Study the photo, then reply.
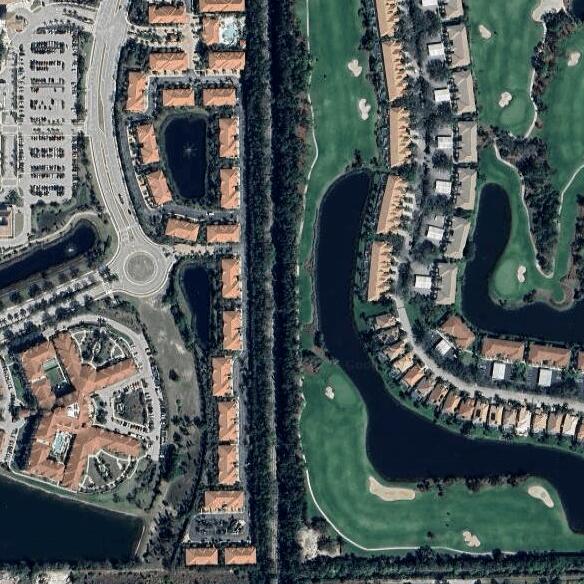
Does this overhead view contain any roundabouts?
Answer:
Yes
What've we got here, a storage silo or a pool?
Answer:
pool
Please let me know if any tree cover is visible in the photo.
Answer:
Yes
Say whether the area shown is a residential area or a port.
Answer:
residential area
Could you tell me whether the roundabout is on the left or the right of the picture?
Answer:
left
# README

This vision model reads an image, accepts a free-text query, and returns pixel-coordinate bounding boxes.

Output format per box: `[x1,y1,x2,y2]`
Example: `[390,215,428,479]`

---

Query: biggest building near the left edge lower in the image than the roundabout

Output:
[16,329,143,494]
